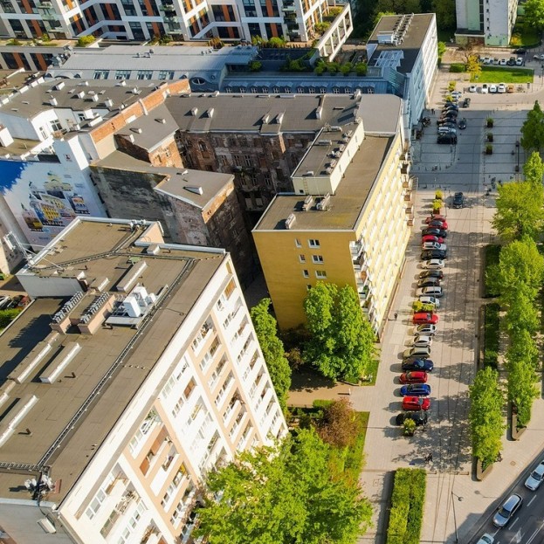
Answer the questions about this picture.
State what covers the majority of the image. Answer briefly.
buildings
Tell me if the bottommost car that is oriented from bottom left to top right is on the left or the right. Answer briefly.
right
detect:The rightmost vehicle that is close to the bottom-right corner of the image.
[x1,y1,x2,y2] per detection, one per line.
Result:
[524,459,544,491]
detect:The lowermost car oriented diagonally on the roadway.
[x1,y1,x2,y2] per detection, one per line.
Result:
[491,493,524,530]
